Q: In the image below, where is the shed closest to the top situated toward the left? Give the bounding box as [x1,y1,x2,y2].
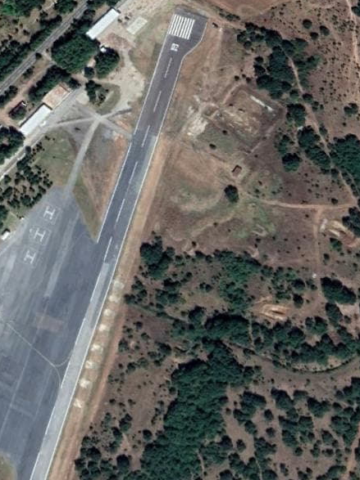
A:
[86,8,119,38]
